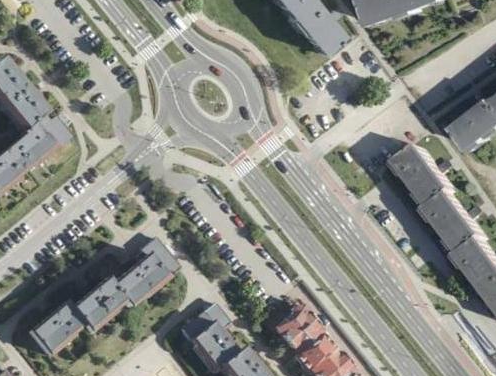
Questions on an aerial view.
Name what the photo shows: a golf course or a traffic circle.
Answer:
traffic circle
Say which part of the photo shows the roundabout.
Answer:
top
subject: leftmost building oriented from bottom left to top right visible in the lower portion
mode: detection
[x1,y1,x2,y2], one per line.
[29,239,181,363]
